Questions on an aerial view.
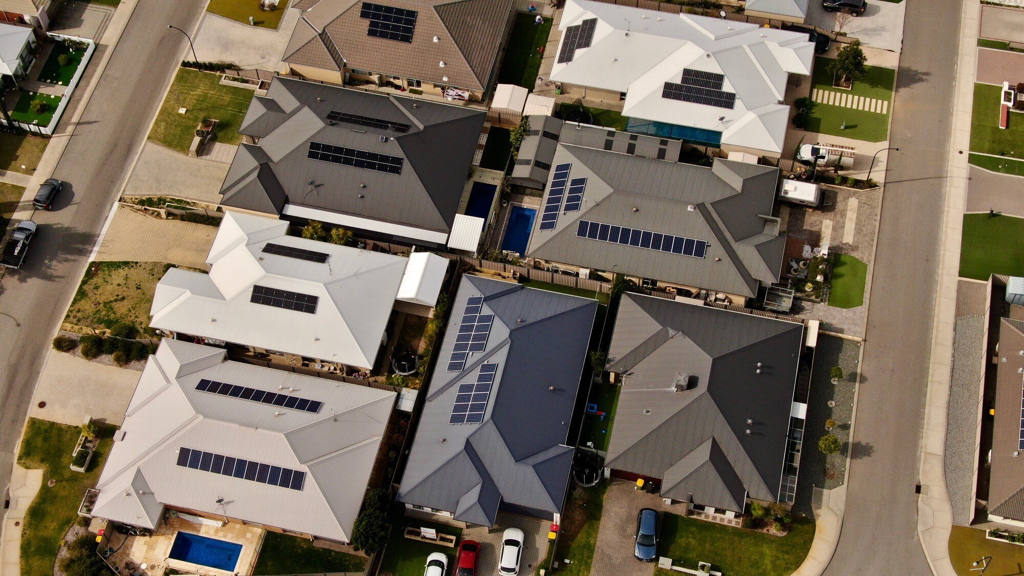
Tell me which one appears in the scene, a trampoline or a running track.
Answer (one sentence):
I can see a trampoline in this picture.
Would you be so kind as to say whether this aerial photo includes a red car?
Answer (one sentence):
Yes, a red car appears in the view.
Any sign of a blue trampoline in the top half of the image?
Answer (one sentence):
No, no blue trampoline can be made out in the top half of the image.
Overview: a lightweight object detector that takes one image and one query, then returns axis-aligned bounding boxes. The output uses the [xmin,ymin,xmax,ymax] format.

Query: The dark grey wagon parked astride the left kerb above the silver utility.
[33,178,62,210]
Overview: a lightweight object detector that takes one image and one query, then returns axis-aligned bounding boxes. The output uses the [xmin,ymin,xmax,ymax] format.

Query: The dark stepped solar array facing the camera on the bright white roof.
[662,69,736,109]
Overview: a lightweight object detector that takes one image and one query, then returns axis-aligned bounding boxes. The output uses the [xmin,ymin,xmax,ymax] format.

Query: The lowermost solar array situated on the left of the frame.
[177,447,306,490]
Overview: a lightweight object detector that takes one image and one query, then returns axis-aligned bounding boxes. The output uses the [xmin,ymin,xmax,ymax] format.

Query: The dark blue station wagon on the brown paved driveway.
[633,507,660,564]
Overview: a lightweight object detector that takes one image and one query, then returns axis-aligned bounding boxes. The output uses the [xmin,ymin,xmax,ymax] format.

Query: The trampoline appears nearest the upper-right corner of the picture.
[565,90,593,126]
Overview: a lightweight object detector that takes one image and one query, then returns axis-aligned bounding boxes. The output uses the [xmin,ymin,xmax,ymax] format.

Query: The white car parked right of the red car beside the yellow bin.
[498,527,526,576]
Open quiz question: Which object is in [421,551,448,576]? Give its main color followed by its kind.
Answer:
white car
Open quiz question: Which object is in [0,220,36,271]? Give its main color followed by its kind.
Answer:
black truck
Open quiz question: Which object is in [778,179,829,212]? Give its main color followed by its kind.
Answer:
white camper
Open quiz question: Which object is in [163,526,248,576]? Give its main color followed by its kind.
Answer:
blue swimming pool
